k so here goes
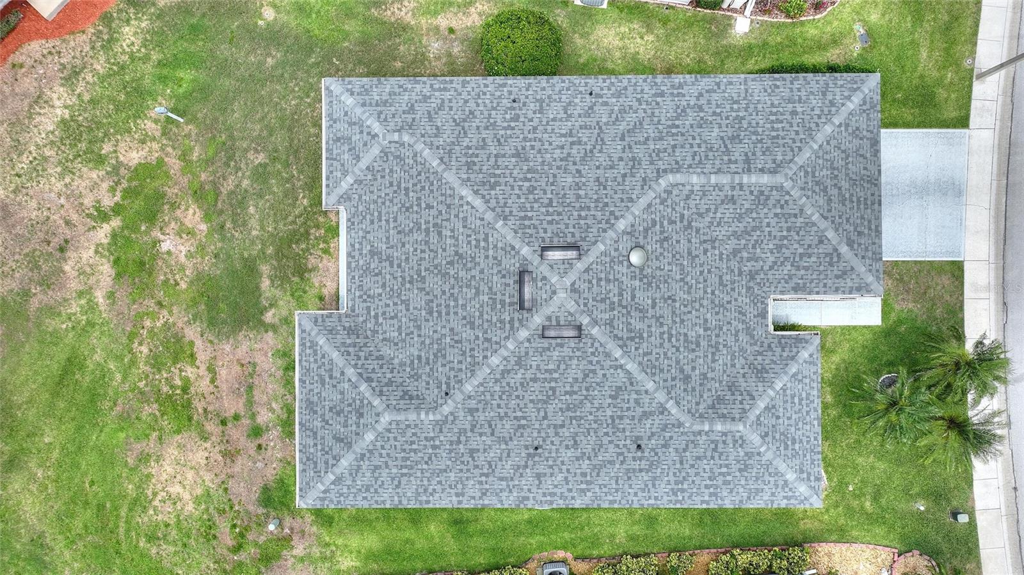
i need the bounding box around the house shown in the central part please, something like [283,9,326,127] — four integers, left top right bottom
[293,72,883,510]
